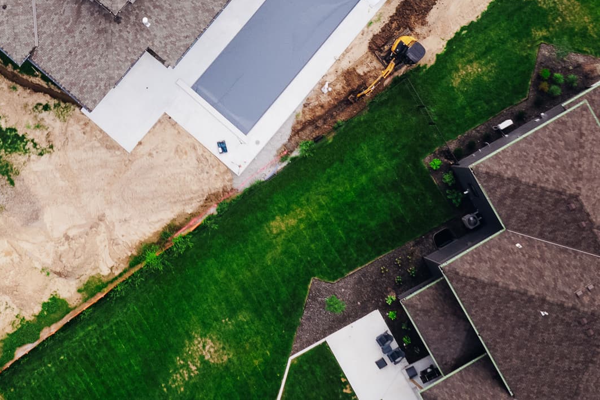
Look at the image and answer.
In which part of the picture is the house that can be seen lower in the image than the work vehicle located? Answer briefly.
right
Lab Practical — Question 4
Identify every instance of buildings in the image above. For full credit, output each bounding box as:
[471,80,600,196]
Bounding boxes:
[0,0,232,113]
[396,77,600,400]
